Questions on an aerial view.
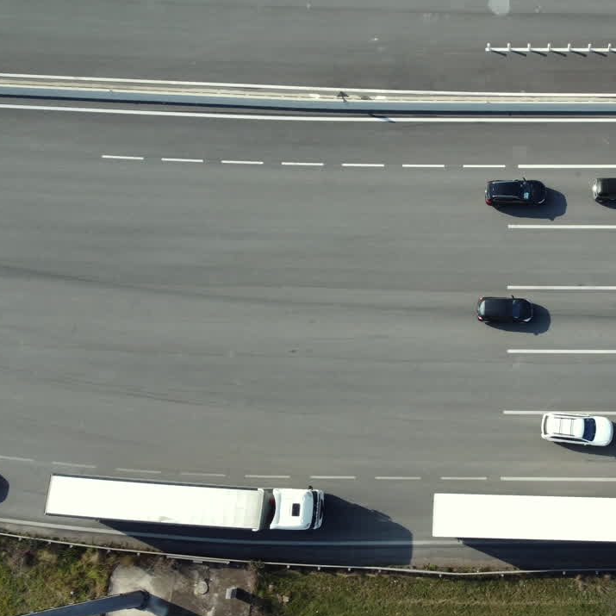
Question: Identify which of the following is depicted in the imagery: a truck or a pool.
truck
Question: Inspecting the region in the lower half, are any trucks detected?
Yes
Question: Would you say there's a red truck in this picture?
No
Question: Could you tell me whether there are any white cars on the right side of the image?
Yes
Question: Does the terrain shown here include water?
No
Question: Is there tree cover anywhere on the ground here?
No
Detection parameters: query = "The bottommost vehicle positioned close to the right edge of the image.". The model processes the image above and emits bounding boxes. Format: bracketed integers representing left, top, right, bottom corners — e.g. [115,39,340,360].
[431,493,616,543]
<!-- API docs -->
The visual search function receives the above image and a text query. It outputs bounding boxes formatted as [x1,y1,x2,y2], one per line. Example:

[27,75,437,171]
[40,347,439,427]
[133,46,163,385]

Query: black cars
[484,176,546,208]
[592,179,616,206]
[477,294,534,325]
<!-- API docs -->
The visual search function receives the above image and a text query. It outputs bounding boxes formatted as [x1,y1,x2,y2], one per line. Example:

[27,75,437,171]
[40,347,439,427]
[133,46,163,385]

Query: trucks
[44,474,327,535]
[431,493,616,543]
